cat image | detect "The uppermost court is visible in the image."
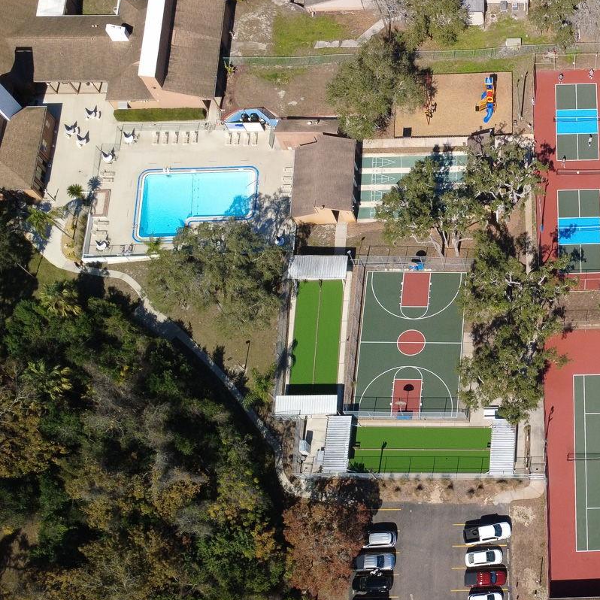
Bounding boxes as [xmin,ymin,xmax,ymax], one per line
[555,83,600,161]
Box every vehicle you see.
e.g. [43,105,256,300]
[351,574,393,592]
[351,553,395,571]
[467,590,503,600]
[465,548,502,566]
[361,530,396,548]
[463,568,505,588]
[462,522,512,545]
